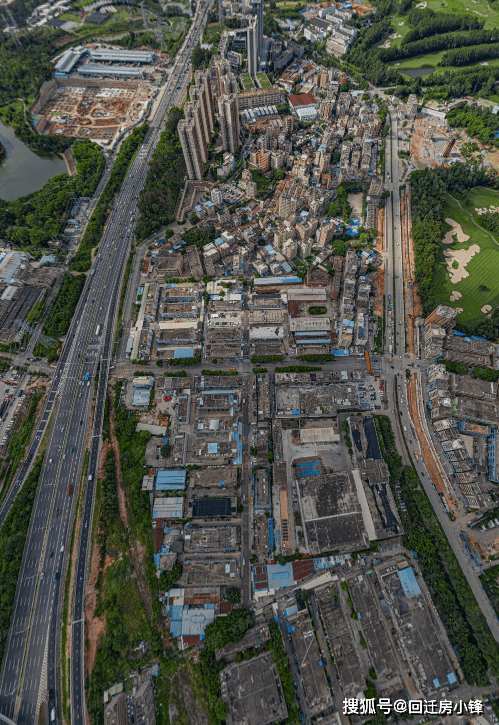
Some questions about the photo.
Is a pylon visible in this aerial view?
Yes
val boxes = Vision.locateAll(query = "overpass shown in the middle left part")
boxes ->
[53,349,111,382]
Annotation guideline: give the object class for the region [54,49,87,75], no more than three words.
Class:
shed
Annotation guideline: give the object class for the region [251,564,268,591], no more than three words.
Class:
shed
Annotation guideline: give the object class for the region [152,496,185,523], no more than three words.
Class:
building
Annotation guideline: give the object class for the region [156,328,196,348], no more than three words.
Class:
building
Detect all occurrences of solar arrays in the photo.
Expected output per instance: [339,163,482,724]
[193,498,231,515]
